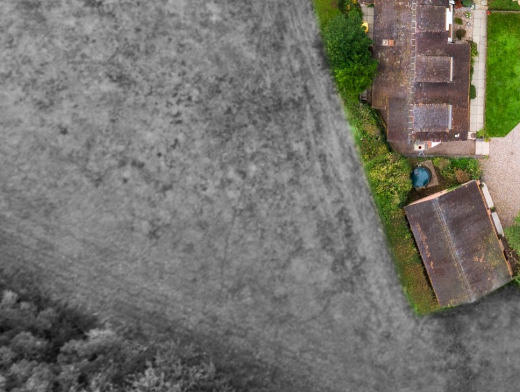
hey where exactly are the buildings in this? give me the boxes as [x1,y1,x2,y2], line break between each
[404,179,514,307]
[357,0,477,157]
